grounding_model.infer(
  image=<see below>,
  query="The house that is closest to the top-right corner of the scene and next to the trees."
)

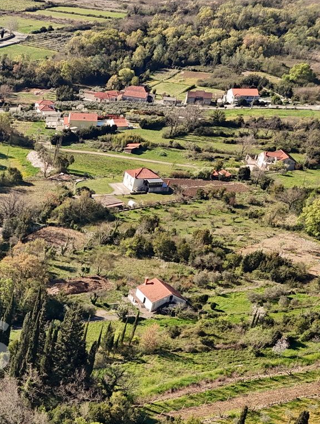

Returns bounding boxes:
[219,83,263,105]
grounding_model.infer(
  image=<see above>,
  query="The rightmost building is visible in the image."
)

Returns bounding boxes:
[254,148,301,170]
